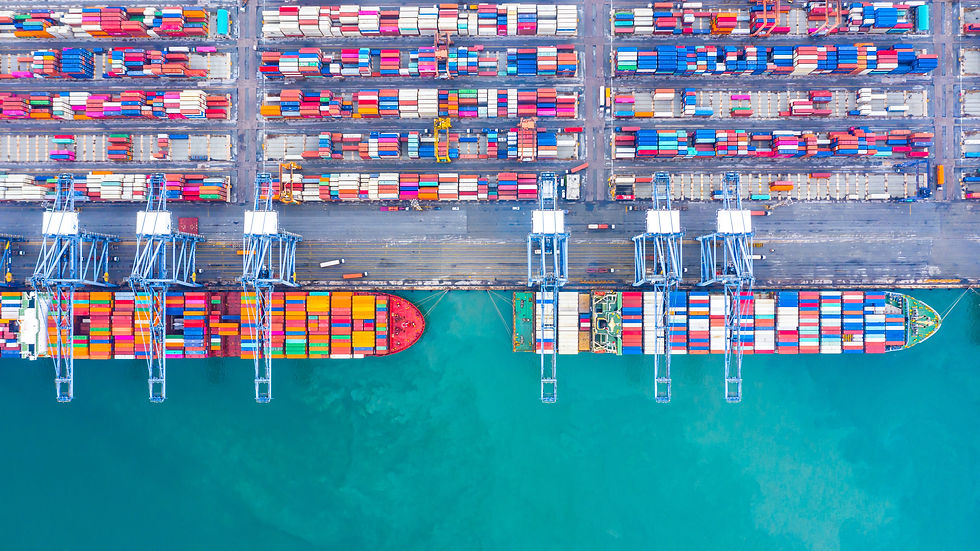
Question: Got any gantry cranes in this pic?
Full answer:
Yes, there's a gantry crane down there.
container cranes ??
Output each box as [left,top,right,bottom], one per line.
[434,117,453,165]
[808,0,839,38]
[278,161,304,205]
[435,31,454,80]
[0,234,32,287]
[518,117,537,165]
[626,172,685,405]
[690,172,756,405]
[749,0,778,38]
[128,172,208,405]
[522,172,571,405]
[894,160,932,204]
[240,172,305,405]
[31,172,123,405]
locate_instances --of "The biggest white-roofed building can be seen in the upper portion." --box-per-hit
[564,174,581,200]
